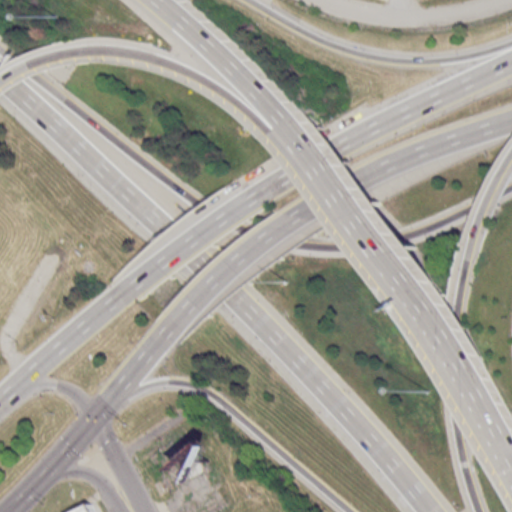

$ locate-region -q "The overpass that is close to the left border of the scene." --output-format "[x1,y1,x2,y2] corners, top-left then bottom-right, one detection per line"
[0,48,47,96]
